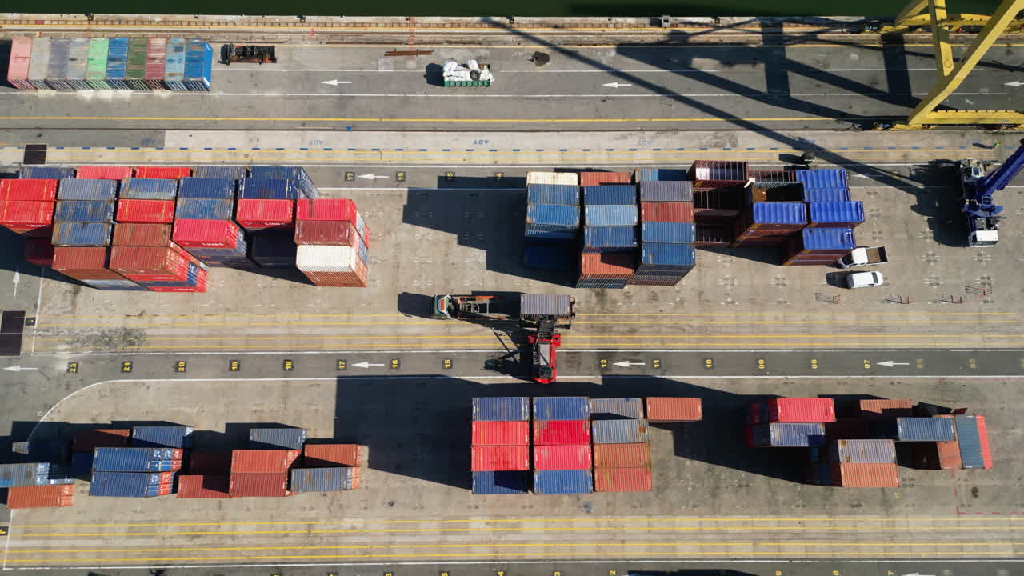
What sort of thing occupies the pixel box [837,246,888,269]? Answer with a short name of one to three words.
truck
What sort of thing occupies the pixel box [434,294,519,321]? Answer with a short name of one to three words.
truck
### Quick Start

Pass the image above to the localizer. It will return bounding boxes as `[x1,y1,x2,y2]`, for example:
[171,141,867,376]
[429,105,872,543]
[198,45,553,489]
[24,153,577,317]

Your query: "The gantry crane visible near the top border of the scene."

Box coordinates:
[847,0,1024,131]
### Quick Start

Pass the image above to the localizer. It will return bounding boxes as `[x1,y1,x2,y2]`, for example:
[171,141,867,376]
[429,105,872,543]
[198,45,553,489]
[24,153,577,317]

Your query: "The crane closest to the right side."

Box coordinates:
[942,138,1024,248]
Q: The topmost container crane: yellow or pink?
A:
yellow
